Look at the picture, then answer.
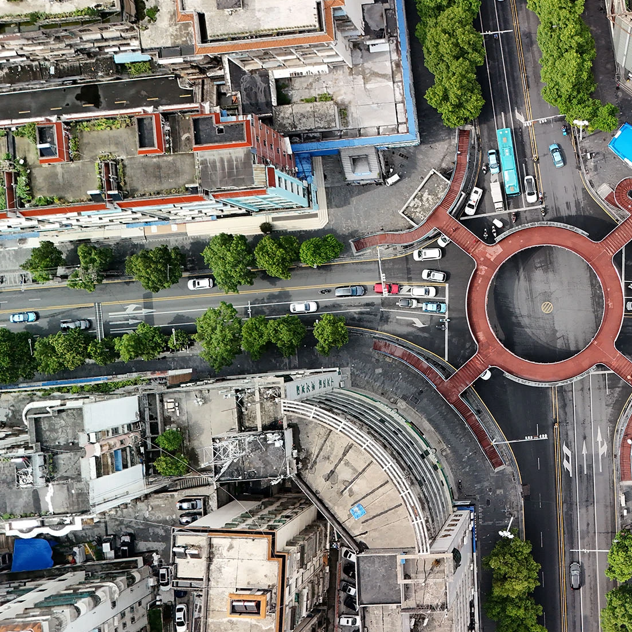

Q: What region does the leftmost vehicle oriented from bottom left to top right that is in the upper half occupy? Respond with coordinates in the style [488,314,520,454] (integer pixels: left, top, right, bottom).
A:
[381,169,404,189]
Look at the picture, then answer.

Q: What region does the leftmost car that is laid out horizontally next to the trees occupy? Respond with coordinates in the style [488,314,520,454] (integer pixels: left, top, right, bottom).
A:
[10,312,38,324]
